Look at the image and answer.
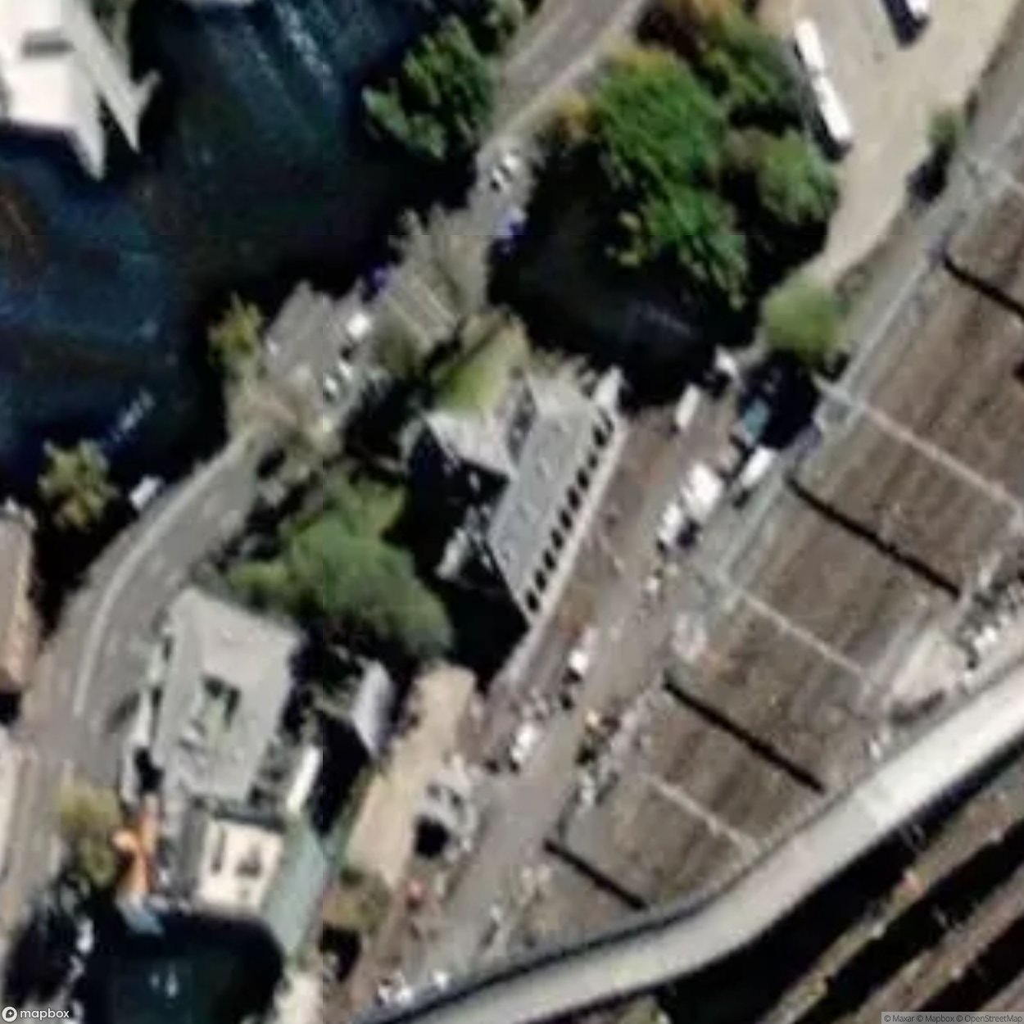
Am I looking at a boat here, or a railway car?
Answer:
boat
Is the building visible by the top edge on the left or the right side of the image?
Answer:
left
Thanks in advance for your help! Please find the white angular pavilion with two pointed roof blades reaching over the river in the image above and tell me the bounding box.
[0,0,161,180]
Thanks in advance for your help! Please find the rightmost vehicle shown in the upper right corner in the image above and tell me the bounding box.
[903,0,928,22]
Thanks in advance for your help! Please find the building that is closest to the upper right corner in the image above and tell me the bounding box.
[600,366,626,417]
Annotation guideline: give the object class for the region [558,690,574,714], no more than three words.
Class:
car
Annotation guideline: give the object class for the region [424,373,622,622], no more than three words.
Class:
building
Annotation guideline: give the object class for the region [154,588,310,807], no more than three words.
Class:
building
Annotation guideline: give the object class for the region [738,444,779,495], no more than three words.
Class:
truck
